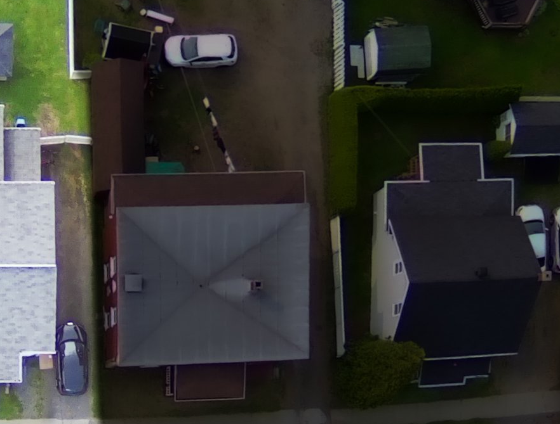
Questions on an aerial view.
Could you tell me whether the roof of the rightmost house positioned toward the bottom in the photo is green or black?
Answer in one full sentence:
The roof of the rightmost house positioned toward the bottom is black.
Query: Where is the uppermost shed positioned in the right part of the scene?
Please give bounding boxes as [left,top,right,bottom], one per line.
[351,27,431,87]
